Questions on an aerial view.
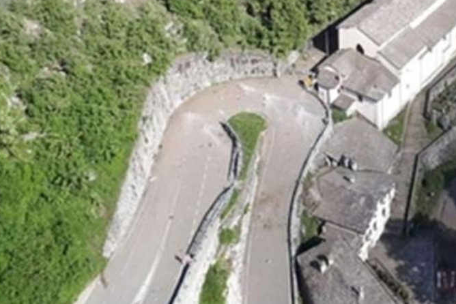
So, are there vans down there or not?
No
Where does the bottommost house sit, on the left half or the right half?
right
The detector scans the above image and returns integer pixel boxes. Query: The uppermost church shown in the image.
[319,0,456,131]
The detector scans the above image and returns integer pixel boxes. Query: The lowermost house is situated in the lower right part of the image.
[297,225,400,304]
